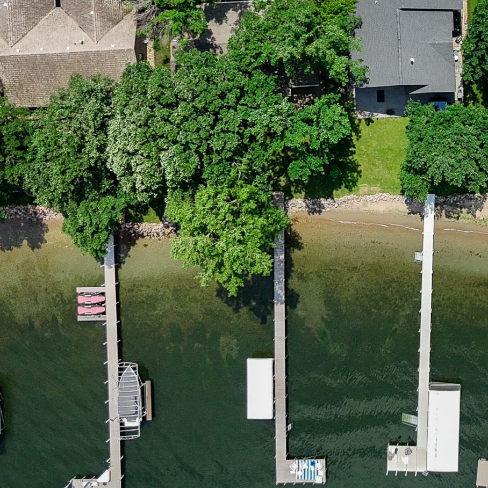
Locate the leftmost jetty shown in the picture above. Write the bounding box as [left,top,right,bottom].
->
[69,243,126,488]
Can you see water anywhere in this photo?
Yes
